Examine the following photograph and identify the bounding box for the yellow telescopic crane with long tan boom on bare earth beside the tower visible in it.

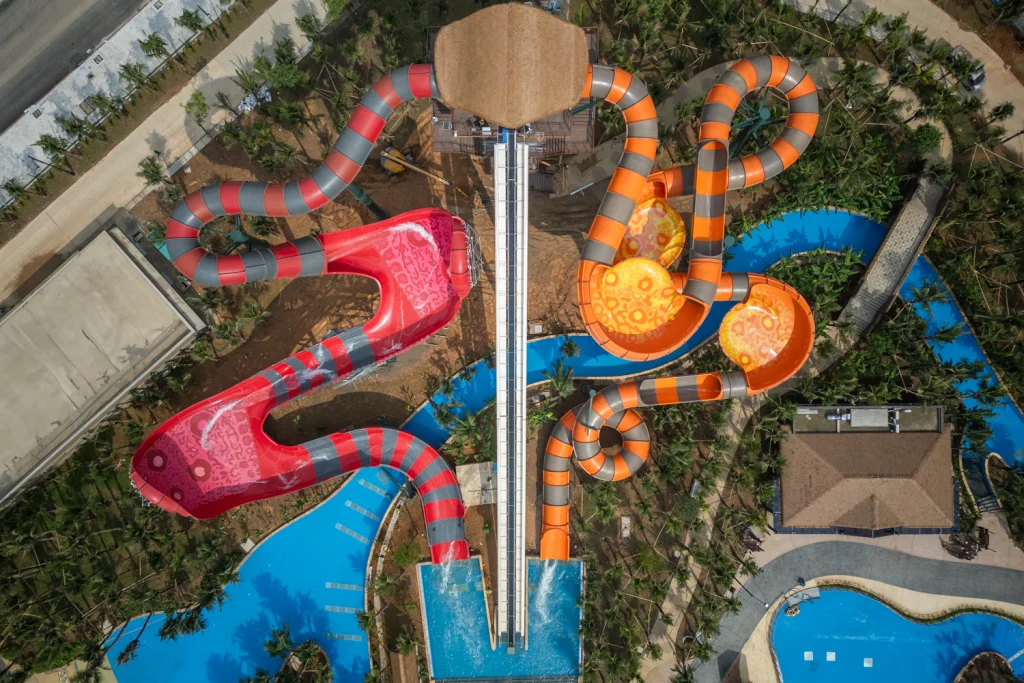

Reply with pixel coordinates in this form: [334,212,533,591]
[383,141,470,198]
